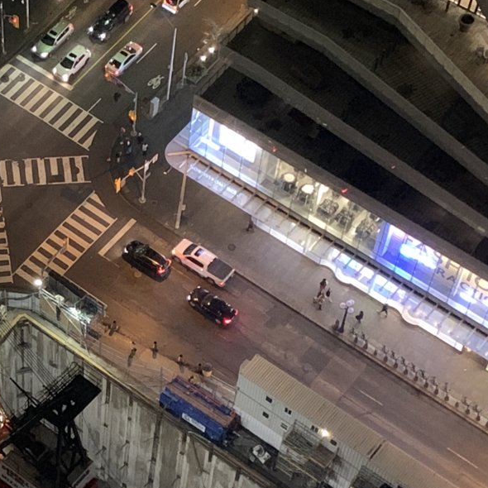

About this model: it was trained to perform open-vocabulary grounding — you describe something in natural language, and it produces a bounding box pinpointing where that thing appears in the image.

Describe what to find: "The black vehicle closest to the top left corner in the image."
[91,0,132,38]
